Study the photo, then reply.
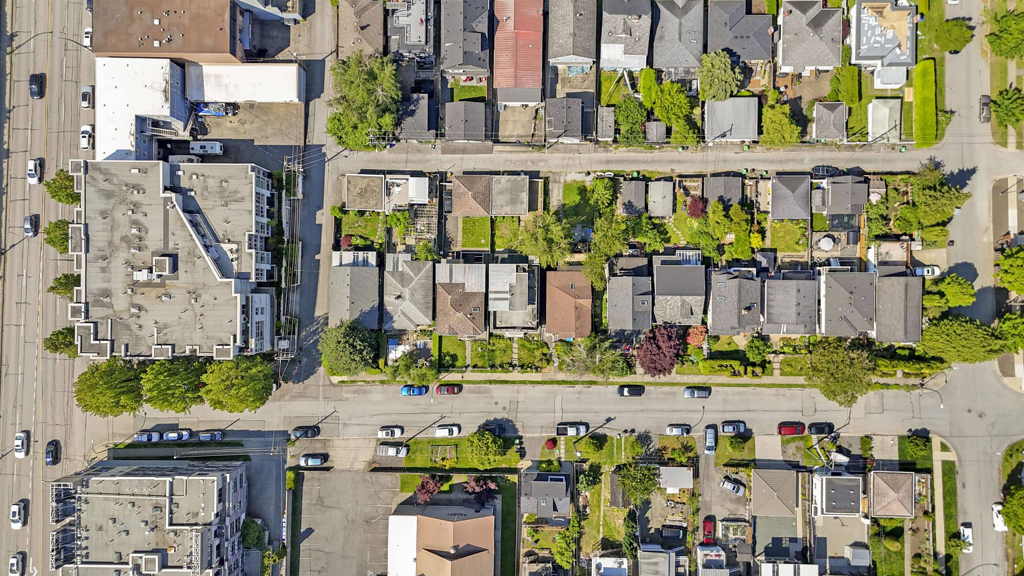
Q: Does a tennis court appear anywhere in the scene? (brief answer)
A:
No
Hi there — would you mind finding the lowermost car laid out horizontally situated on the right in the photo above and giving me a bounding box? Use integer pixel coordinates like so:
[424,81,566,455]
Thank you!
[659,525,688,539]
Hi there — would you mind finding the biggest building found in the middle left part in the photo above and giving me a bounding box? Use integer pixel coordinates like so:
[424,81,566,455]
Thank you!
[68,159,280,360]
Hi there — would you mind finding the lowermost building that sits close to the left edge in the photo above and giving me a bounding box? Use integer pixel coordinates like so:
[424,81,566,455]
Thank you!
[50,457,250,576]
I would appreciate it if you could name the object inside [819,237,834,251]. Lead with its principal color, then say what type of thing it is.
white umbrella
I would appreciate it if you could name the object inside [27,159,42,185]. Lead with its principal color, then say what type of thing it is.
white car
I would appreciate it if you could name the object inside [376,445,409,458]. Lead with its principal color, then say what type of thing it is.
white vehicle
